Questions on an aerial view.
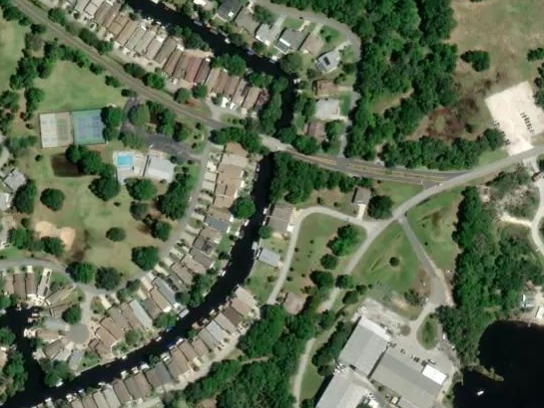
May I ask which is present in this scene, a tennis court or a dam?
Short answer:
tennis court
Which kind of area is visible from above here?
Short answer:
residential area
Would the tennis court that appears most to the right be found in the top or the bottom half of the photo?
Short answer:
top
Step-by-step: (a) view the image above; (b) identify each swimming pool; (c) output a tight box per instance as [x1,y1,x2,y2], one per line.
[116,153,133,166]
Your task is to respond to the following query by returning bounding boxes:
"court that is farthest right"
[71,109,104,145]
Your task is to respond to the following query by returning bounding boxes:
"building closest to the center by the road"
[266,203,289,233]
